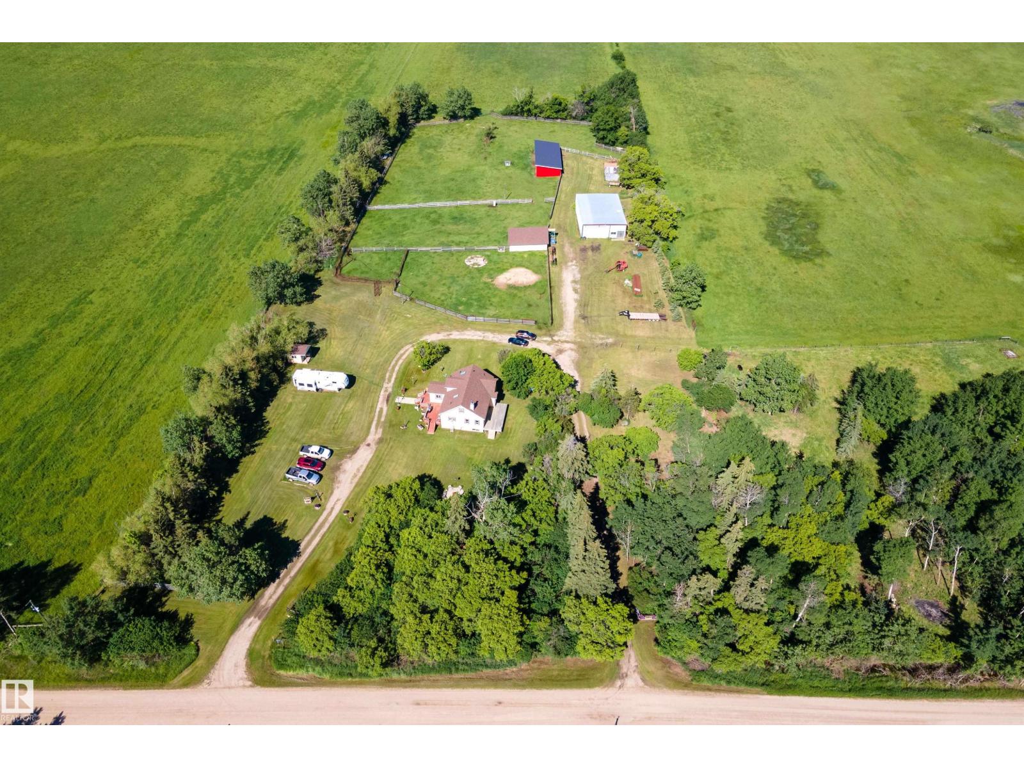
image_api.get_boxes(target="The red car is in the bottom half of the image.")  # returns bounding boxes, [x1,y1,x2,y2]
[297,456,323,471]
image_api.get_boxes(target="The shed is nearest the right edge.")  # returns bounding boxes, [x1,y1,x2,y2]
[575,193,628,240]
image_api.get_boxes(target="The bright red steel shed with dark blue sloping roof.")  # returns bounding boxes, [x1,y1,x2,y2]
[534,140,563,177]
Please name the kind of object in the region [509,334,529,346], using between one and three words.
vehicle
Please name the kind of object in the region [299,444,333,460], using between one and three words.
vehicle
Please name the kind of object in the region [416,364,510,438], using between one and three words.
house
